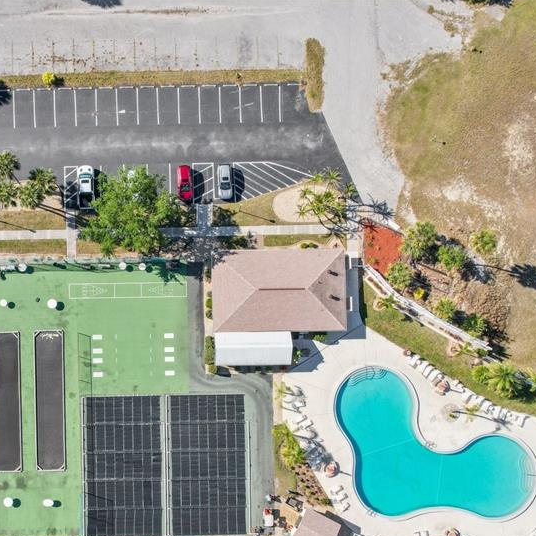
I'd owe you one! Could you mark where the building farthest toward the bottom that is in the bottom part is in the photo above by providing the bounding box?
[292,508,341,536]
